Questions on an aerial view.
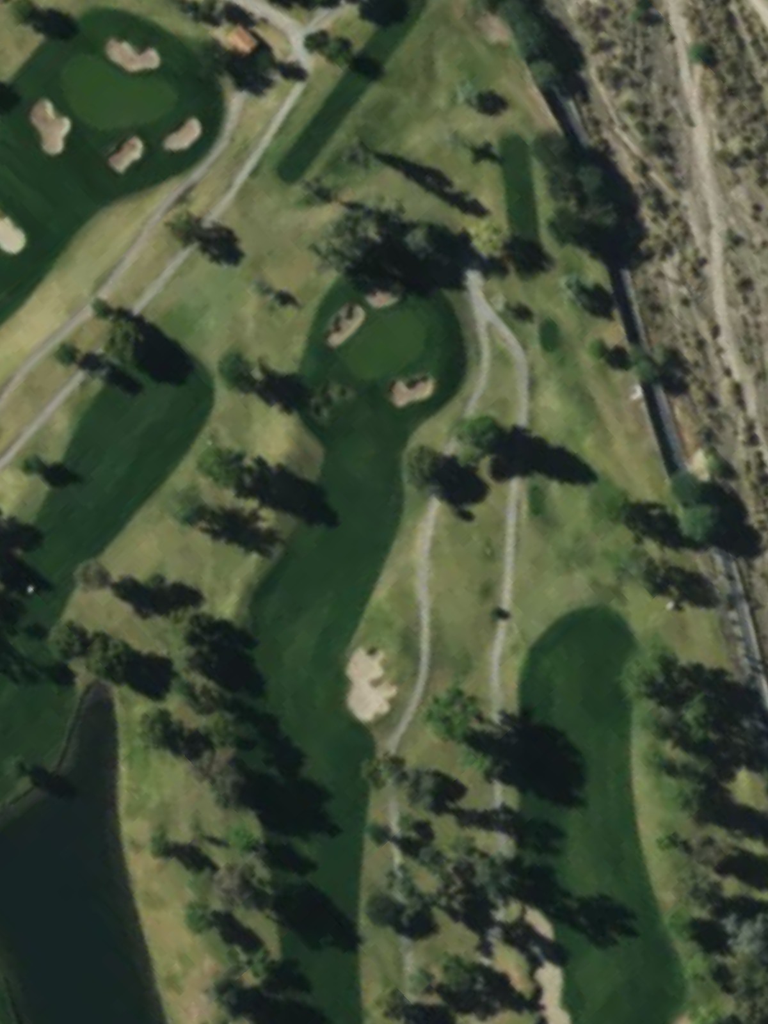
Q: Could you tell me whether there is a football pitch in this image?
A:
No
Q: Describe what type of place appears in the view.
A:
golf course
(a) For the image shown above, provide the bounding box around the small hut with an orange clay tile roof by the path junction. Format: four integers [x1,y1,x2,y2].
[228,24,257,53]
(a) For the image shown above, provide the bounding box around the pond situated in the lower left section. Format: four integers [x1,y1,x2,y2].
[0,681,167,1024]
